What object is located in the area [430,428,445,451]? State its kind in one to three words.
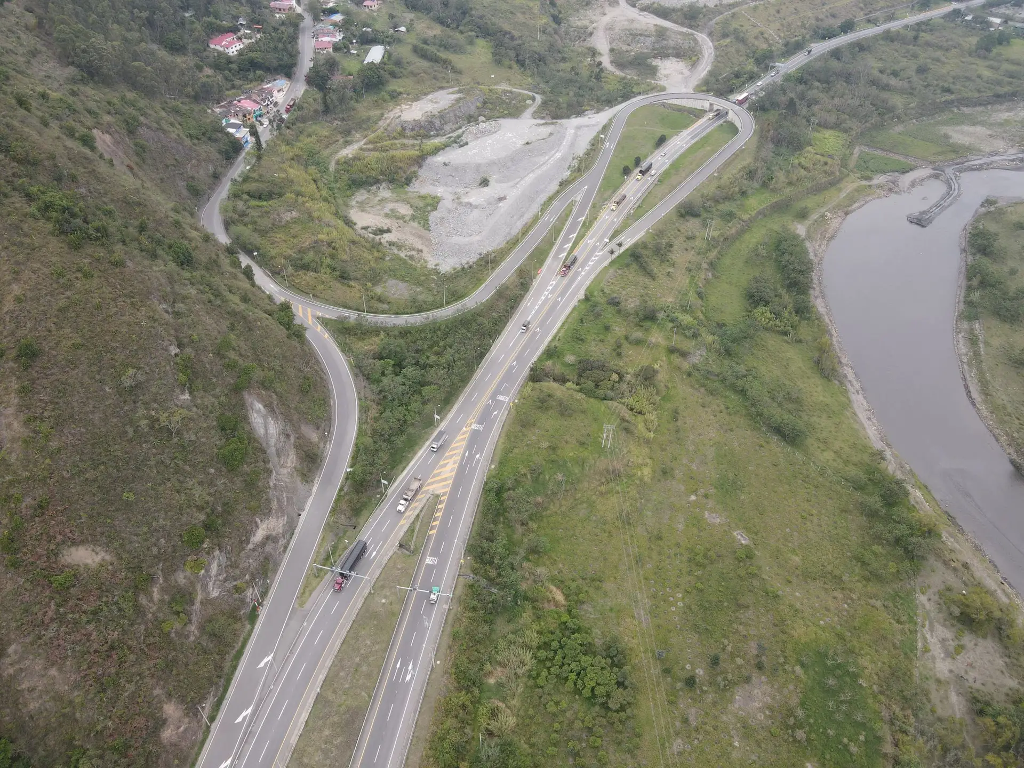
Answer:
vehicle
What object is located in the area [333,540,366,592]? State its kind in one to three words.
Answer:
truck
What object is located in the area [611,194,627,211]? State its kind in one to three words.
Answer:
vehicle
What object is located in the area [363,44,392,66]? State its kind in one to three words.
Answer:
shed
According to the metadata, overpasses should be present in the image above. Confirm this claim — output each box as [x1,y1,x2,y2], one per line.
[638,99,741,130]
